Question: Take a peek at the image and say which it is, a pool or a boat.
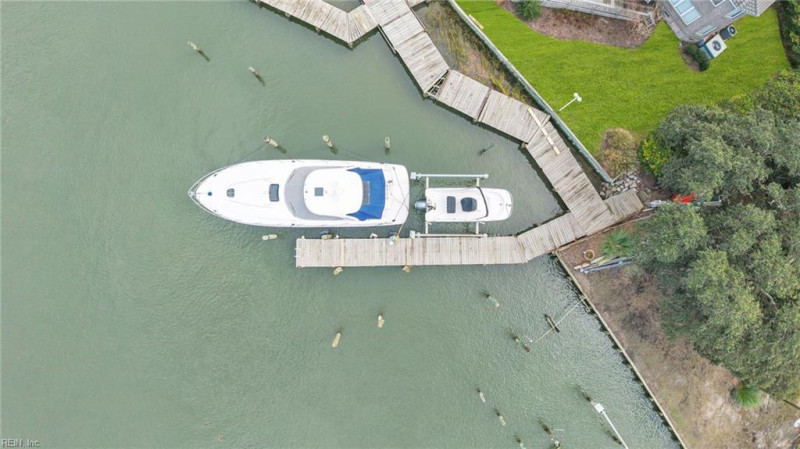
boat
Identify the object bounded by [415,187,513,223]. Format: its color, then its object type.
white boat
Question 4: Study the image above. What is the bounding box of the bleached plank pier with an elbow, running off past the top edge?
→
[254,0,378,52]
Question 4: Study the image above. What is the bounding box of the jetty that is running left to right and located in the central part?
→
[295,212,587,268]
